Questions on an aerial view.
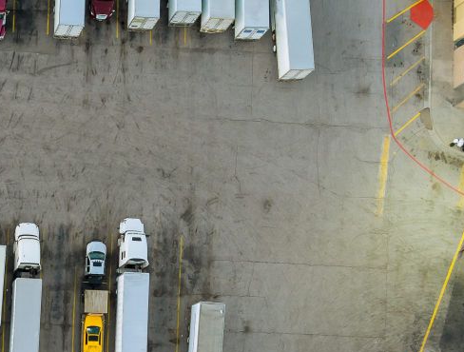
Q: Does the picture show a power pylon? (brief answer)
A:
No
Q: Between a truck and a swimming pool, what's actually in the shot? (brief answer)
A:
truck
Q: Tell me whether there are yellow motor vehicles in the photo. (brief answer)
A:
Yes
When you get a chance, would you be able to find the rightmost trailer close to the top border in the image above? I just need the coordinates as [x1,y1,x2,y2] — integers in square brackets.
[272,0,315,82]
